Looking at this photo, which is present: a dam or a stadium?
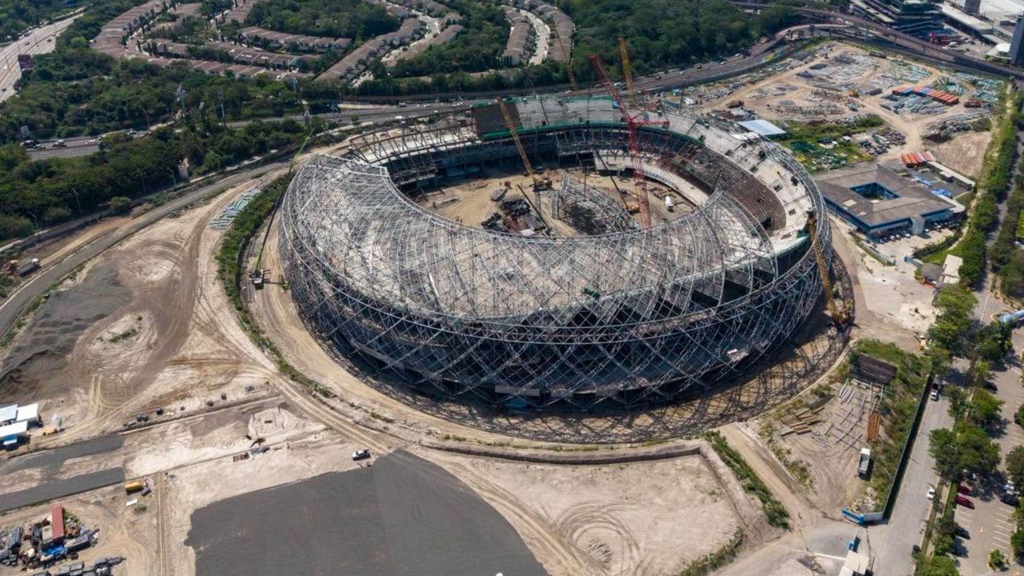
stadium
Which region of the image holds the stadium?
center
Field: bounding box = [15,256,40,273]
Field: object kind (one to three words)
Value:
vehicle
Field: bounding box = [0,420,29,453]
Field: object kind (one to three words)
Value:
building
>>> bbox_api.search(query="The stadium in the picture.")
[278,92,835,411]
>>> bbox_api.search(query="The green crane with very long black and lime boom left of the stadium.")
[241,134,311,290]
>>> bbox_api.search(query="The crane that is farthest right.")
[800,212,861,326]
